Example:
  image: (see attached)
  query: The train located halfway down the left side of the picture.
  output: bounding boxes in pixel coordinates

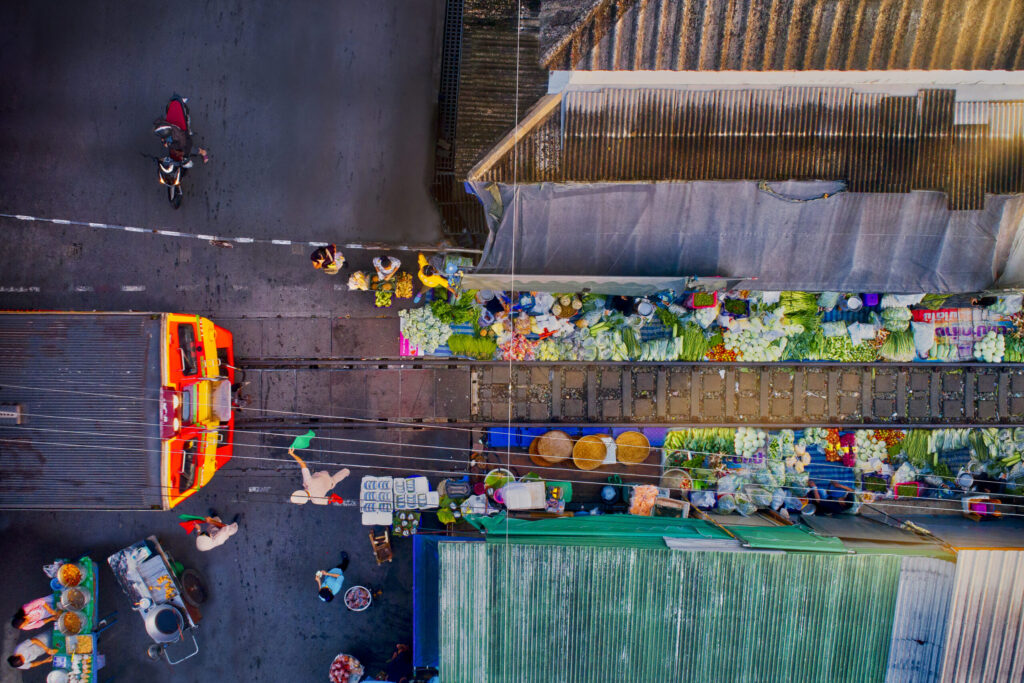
[0,310,251,512]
